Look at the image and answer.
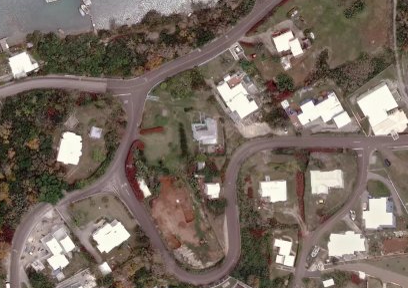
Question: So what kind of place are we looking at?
residential area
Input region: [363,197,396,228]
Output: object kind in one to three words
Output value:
house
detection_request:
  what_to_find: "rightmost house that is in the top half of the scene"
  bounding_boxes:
[357,82,408,136]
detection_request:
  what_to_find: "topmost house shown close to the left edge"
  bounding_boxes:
[8,52,38,79]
